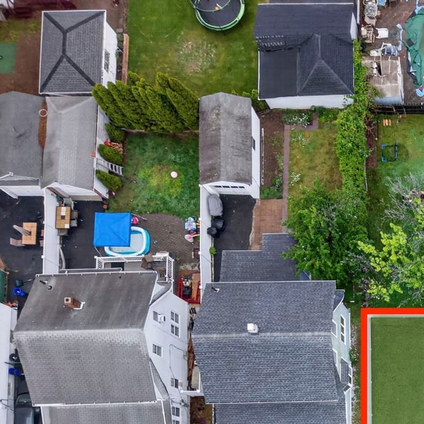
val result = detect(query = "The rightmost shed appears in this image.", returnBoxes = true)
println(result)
[363,55,403,104]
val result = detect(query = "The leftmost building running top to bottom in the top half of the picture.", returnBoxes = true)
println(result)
[0,92,46,193]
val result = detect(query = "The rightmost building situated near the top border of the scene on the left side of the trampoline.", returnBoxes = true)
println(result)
[38,9,120,97]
